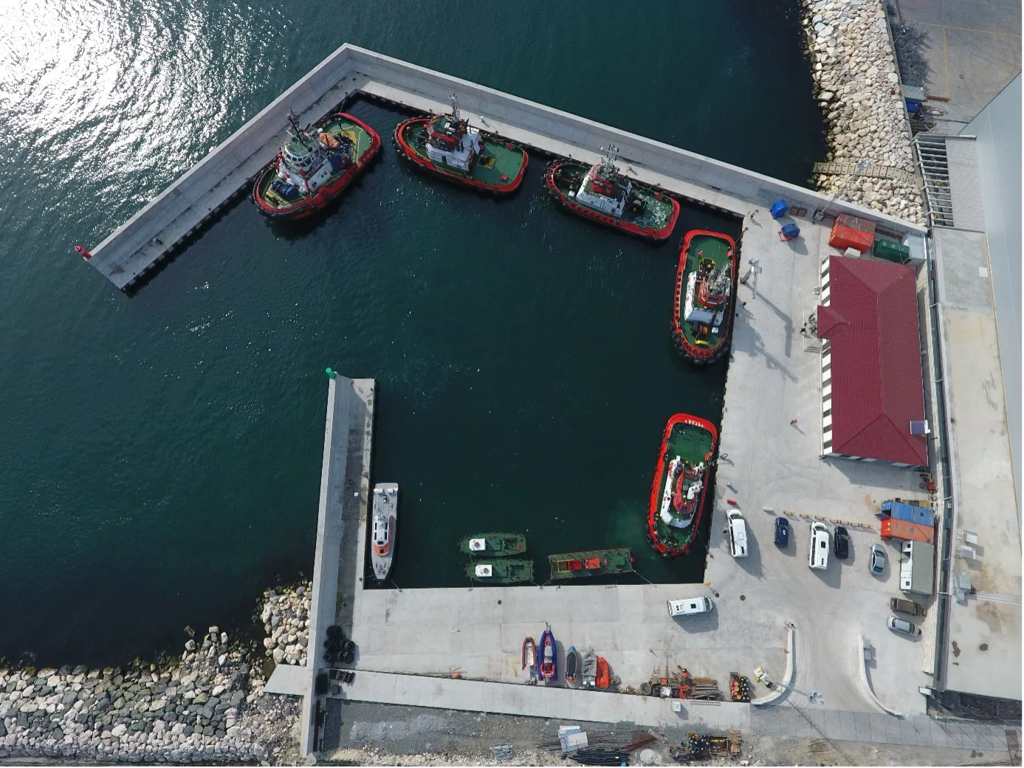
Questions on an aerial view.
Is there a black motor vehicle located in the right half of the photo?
Yes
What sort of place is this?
port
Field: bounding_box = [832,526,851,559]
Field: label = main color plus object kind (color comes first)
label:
black car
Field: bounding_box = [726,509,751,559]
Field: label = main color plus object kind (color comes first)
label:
white vehicle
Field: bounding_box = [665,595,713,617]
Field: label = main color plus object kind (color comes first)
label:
white vehicle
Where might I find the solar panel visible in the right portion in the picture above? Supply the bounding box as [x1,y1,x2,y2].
[908,420,929,436]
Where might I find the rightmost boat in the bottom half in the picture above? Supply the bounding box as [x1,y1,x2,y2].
[647,414,716,558]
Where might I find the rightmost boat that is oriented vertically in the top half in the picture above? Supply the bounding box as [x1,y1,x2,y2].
[673,233,738,365]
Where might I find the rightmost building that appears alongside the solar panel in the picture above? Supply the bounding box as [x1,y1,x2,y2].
[921,227,1024,701]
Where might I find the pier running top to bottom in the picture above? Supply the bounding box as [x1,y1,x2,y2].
[306,376,378,669]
